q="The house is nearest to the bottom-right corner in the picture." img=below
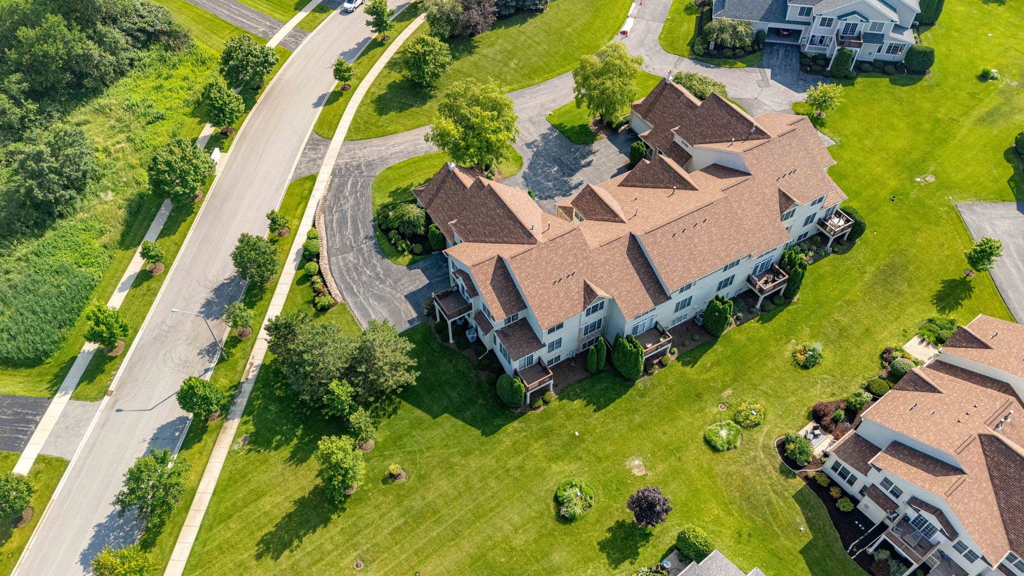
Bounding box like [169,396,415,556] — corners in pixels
[822,314,1024,576]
